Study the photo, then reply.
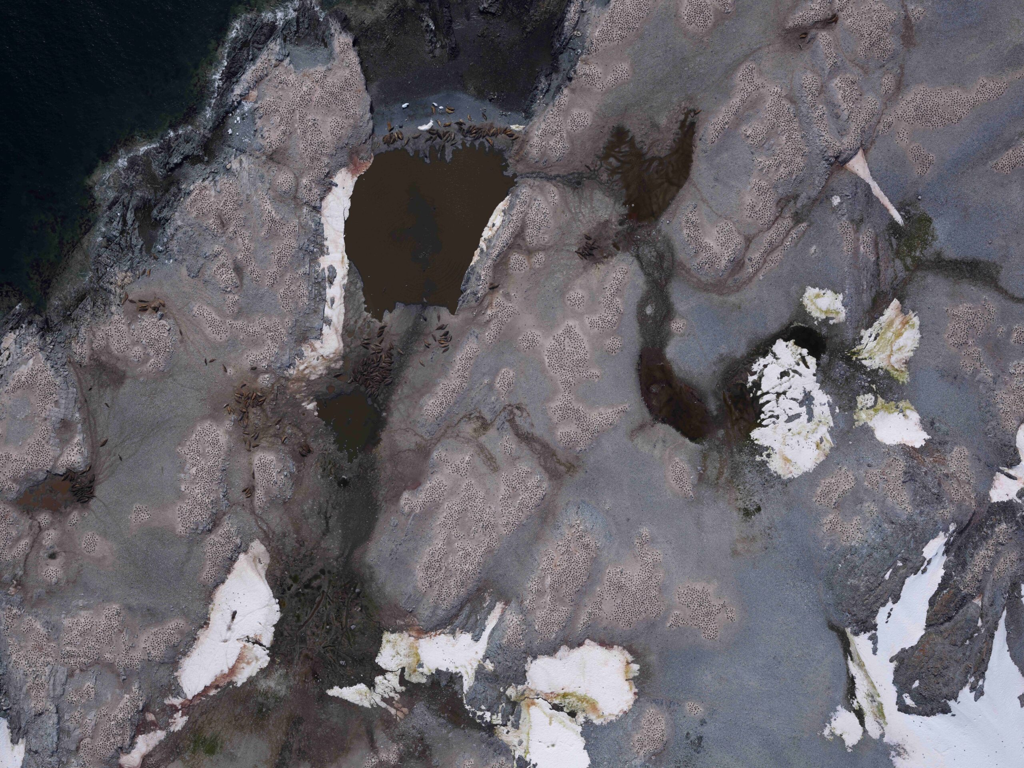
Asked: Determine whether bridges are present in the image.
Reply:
No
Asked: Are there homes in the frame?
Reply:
No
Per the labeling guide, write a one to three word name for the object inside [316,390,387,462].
pond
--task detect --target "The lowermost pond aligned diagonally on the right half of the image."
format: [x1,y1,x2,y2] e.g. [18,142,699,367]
[642,350,713,439]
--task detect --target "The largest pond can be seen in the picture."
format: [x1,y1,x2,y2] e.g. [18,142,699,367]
[344,142,517,320]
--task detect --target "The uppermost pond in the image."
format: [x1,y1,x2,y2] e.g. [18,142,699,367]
[608,114,694,220]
